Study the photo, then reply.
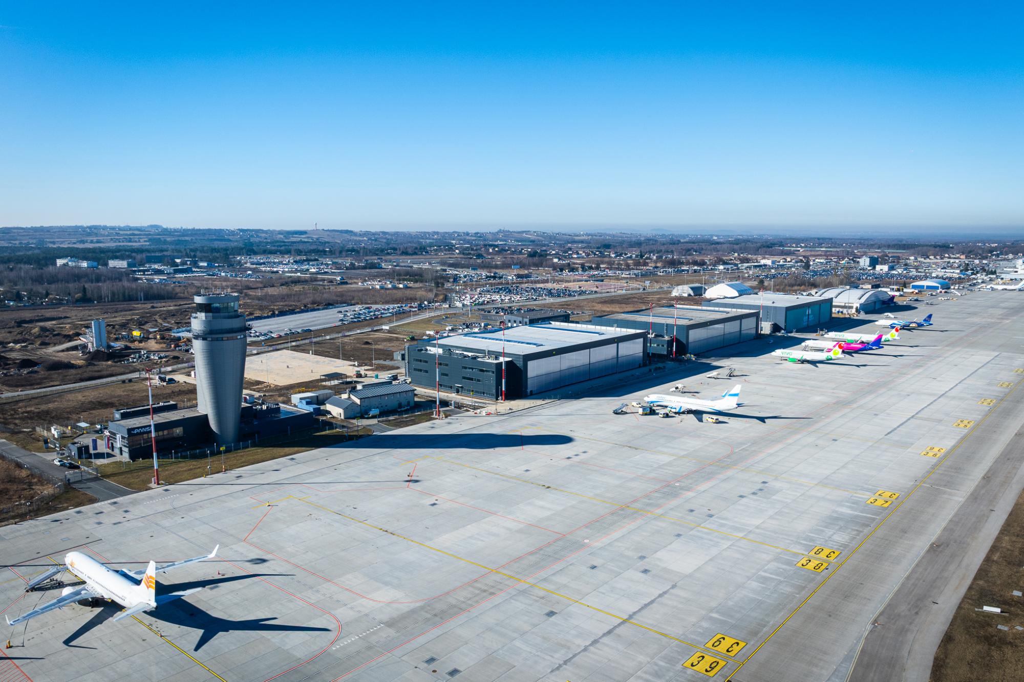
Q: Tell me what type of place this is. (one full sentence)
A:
This image shows an airport.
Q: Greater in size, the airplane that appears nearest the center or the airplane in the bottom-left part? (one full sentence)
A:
Of the two, the airplane in the bottom-left part is larger and the airplane that appears nearest the center is the smaller one.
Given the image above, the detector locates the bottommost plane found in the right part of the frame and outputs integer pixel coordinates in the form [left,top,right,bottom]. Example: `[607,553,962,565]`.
[644,387,739,414]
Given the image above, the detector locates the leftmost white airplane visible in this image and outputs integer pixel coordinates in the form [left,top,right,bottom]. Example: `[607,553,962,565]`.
[9,547,213,625]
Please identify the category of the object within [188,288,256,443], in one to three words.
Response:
building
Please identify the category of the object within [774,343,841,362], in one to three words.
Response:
airplane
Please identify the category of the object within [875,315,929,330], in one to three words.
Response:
airplane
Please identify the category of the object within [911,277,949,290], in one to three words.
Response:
hangar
